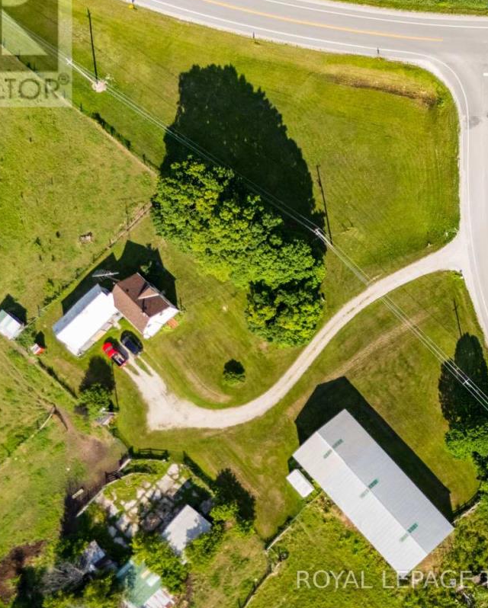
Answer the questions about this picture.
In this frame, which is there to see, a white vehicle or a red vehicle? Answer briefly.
red vehicle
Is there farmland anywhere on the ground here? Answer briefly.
Yes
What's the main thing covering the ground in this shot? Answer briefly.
grass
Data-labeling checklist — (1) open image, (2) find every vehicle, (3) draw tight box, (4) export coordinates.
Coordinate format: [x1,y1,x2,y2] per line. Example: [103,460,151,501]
[120,331,144,357]
[101,340,129,370]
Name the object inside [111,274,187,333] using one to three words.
house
